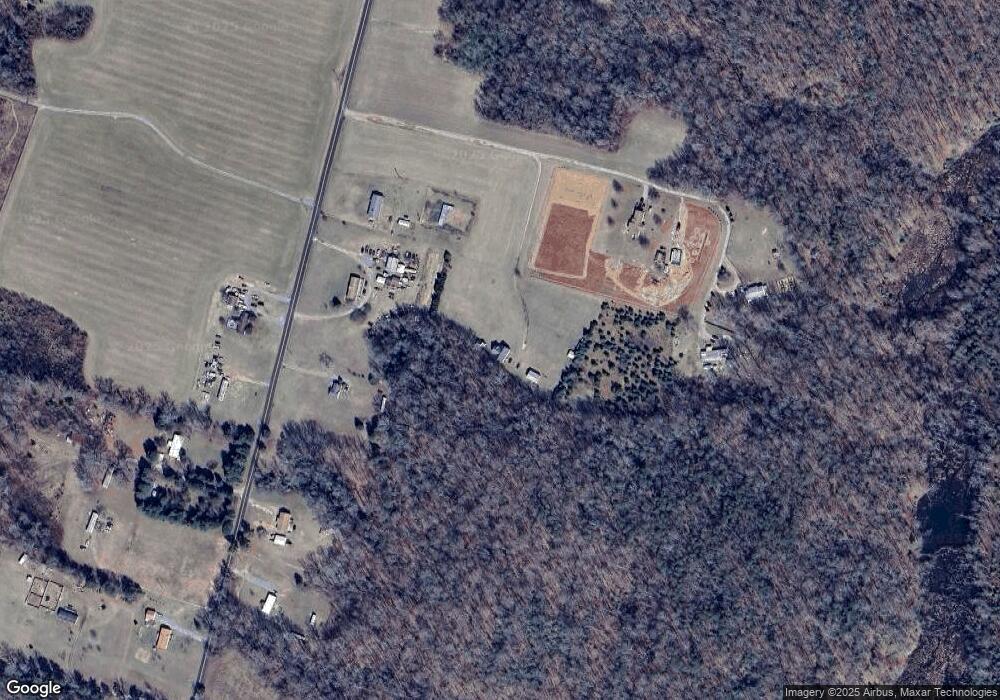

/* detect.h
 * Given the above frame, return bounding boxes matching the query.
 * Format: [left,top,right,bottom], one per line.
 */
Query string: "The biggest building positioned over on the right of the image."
[700,347,728,371]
